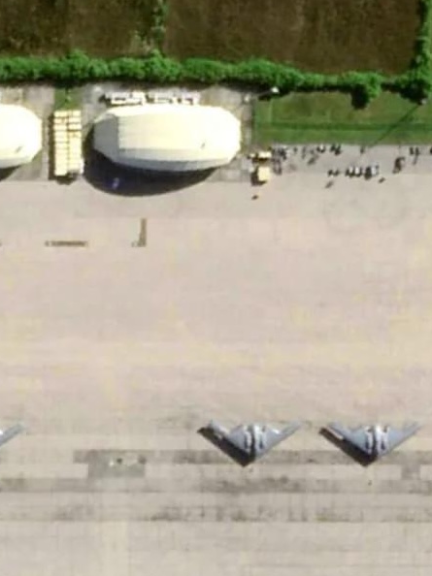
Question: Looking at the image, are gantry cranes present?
No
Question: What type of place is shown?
airport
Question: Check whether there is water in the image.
No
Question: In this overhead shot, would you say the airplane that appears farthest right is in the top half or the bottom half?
bottom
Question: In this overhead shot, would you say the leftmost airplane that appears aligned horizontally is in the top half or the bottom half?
bottom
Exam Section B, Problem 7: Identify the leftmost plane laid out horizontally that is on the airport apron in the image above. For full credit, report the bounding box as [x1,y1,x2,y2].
[208,420,301,458]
